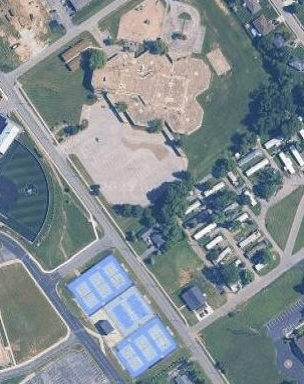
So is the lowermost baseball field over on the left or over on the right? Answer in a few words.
left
